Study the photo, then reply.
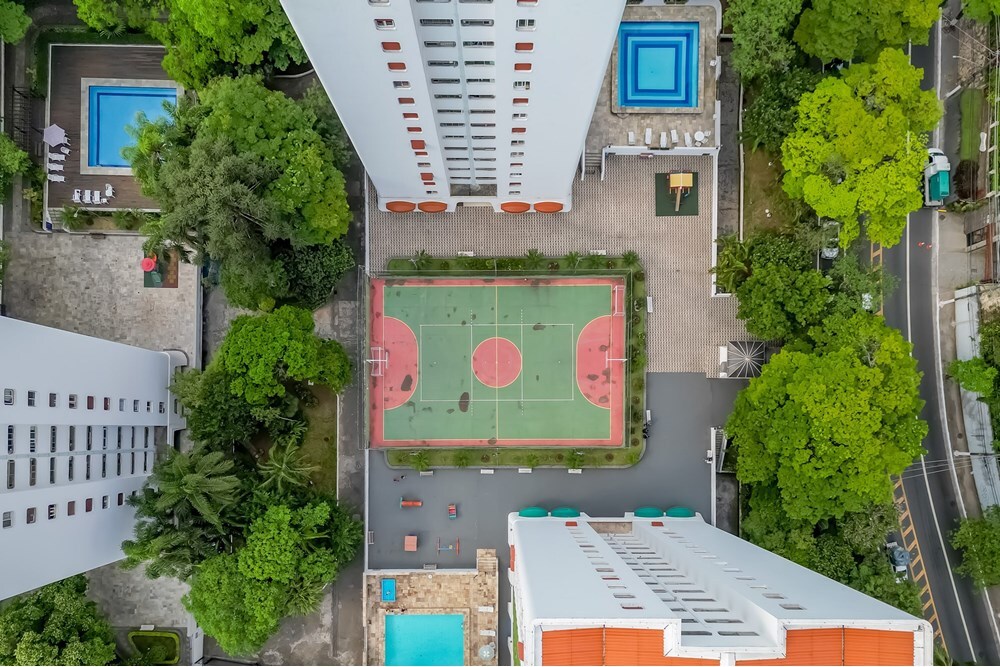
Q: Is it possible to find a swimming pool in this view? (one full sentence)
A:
Yes, I can see a swimming pool in this picture.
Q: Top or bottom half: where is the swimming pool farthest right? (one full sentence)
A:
Seen from above, the swimming pool farthest right lies in the top half of the view.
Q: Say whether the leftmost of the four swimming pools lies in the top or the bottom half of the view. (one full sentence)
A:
The leftmost of the four swimming pools sits in the top half of the picture.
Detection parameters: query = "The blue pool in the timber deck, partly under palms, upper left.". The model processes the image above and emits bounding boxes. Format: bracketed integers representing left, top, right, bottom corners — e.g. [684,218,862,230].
[80,78,184,176]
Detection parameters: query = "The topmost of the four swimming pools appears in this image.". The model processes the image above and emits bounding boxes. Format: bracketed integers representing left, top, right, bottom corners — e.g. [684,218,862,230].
[611,21,705,113]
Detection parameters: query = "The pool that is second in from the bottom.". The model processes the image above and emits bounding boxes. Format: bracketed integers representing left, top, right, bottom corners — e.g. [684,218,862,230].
[381,578,396,601]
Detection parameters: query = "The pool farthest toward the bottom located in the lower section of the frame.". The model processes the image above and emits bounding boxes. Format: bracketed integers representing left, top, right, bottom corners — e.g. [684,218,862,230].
[379,608,470,667]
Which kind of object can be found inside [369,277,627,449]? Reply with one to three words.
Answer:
sports court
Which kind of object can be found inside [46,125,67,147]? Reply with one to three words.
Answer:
umbrella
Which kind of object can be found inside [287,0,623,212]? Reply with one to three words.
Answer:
building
